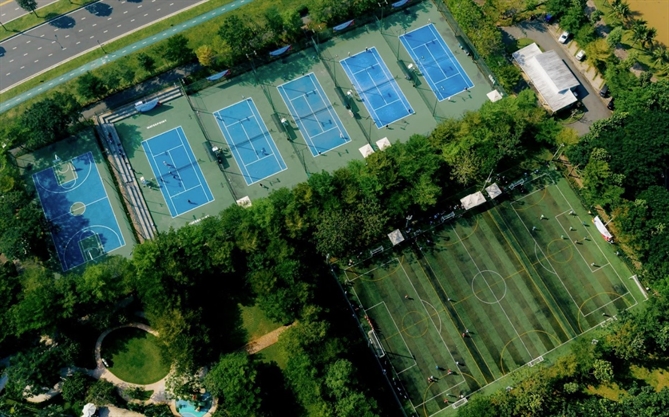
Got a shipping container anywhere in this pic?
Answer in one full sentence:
No, there appears to be no shipping container in this shot.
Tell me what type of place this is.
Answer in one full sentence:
What you see here is a sports ground.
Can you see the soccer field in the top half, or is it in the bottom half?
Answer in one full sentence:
The soccer field is in the bottom half of the image.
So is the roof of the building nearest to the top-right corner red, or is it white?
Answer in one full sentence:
The roof of the building nearest to the top-right corner looks white in the image.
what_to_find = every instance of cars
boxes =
[604,97,617,111]
[557,31,568,44]
[597,84,610,97]
[571,87,582,101]
[573,48,587,61]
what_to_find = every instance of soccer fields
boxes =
[326,154,651,417]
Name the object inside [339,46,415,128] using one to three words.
tennis court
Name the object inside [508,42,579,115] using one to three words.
building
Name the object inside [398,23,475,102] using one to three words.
tennis court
